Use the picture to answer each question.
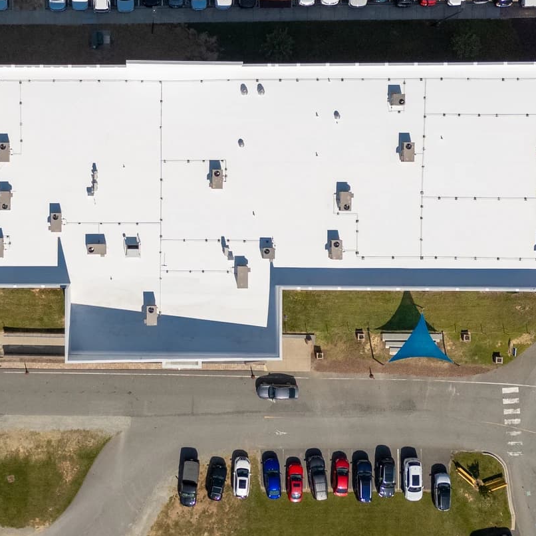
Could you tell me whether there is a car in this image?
Yes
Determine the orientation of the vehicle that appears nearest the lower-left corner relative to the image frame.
vertically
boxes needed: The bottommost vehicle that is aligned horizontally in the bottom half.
[257,382,298,400]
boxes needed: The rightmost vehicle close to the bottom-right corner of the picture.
[432,472,451,511]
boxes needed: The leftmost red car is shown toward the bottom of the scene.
[287,463,304,502]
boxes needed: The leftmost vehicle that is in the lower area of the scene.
[179,459,198,507]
